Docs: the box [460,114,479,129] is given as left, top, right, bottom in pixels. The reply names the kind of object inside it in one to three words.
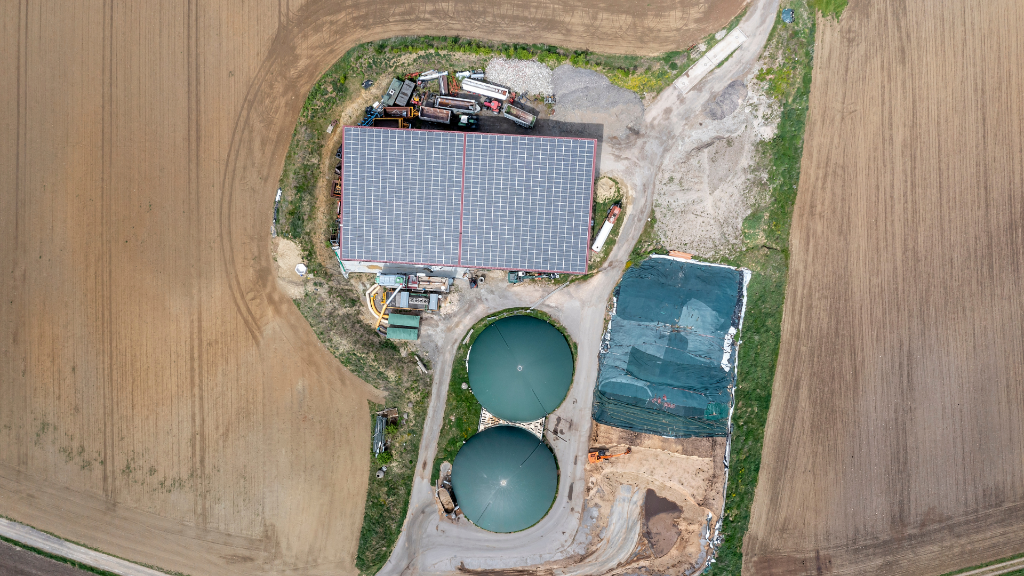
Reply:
work vehicle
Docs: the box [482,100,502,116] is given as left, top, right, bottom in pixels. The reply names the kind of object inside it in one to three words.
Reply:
work vehicle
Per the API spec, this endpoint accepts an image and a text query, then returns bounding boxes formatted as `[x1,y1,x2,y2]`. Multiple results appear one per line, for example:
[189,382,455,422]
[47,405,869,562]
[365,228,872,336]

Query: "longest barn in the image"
[340,126,597,275]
